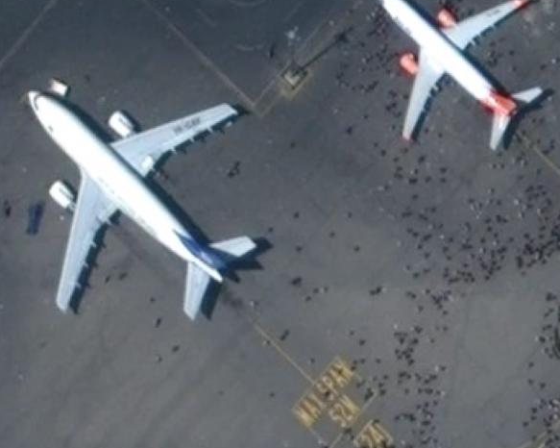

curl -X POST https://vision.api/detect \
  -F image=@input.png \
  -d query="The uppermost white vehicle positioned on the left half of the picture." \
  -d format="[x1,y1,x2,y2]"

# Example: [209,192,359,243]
[46,82,70,100]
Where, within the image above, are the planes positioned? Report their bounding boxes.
[380,0,545,151]
[27,91,256,319]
